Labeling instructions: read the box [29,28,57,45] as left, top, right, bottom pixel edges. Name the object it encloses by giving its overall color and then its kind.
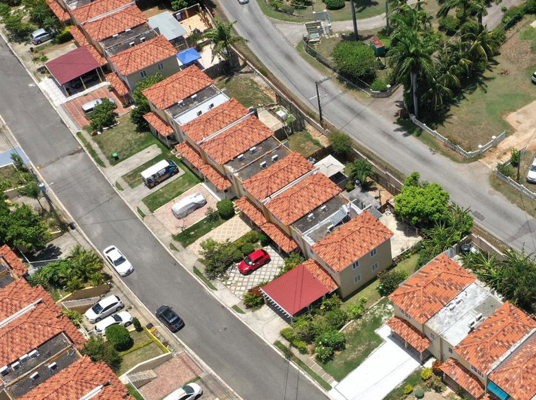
gray car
